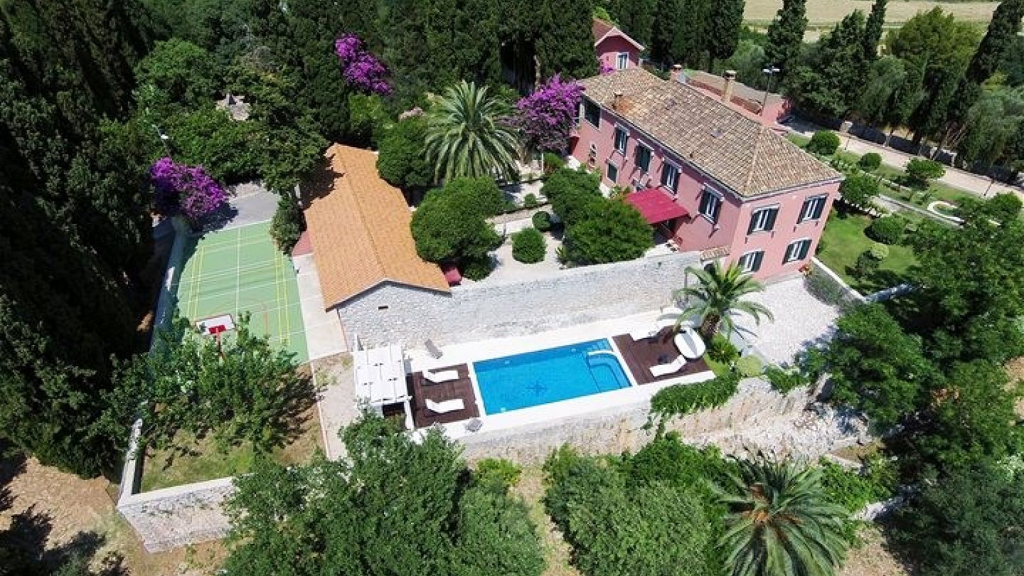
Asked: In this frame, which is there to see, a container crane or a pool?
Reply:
pool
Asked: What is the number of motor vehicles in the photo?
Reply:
zero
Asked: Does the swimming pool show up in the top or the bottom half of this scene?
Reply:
bottom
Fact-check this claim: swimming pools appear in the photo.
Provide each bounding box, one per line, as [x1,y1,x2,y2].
[467,333,639,420]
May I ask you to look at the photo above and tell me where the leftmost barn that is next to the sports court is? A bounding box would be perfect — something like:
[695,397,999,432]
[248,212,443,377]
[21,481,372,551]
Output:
[300,139,452,353]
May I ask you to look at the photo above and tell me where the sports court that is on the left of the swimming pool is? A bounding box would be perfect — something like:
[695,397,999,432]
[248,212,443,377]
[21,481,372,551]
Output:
[143,220,306,388]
